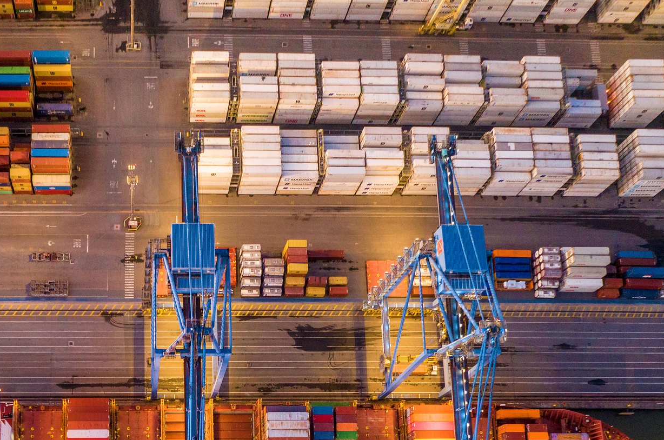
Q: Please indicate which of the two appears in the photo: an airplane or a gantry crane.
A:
gantry crane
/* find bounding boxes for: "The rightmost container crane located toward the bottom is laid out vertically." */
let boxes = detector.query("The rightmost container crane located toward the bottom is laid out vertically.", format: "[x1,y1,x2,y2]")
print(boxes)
[356,133,504,440]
